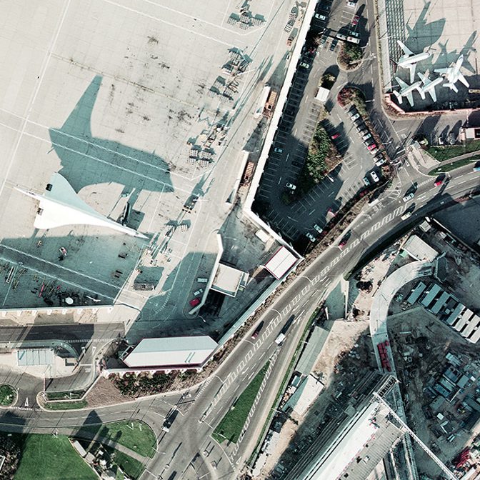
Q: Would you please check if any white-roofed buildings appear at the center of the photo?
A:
Yes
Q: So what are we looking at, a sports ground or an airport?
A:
airport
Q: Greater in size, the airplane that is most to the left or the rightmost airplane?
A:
the airplane that is most to the left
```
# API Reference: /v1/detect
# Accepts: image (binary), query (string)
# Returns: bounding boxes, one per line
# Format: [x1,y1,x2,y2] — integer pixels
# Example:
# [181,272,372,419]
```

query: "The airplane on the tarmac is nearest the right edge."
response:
[436,56,469,90]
